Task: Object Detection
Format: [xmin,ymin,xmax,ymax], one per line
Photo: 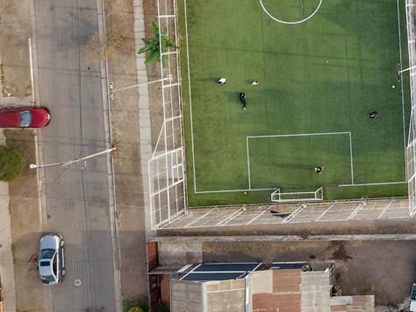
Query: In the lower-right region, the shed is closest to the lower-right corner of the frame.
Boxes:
[331,294,375,312]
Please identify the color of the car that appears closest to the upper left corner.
red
